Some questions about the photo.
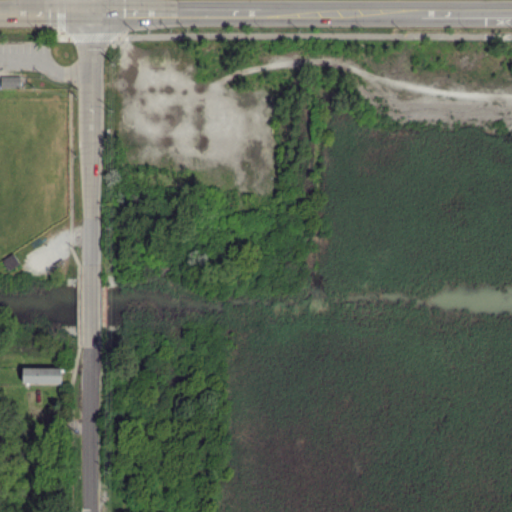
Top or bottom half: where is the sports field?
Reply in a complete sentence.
It is in the top half that the sports field appears.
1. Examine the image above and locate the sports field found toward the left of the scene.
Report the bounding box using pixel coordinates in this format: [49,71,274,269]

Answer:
[0,90,69,259]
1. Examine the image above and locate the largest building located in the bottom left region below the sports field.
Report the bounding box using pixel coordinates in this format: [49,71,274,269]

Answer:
[22,368,62,386]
